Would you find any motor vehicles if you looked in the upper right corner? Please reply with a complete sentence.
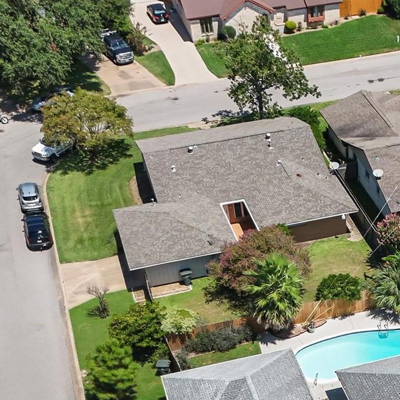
No, I can find no motor vehicle in the upper right corner.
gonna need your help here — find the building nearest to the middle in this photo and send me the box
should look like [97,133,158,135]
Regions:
[113,117,359,291]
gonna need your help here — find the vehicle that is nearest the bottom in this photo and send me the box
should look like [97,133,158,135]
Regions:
[20,216,55,253]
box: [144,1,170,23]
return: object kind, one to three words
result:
car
